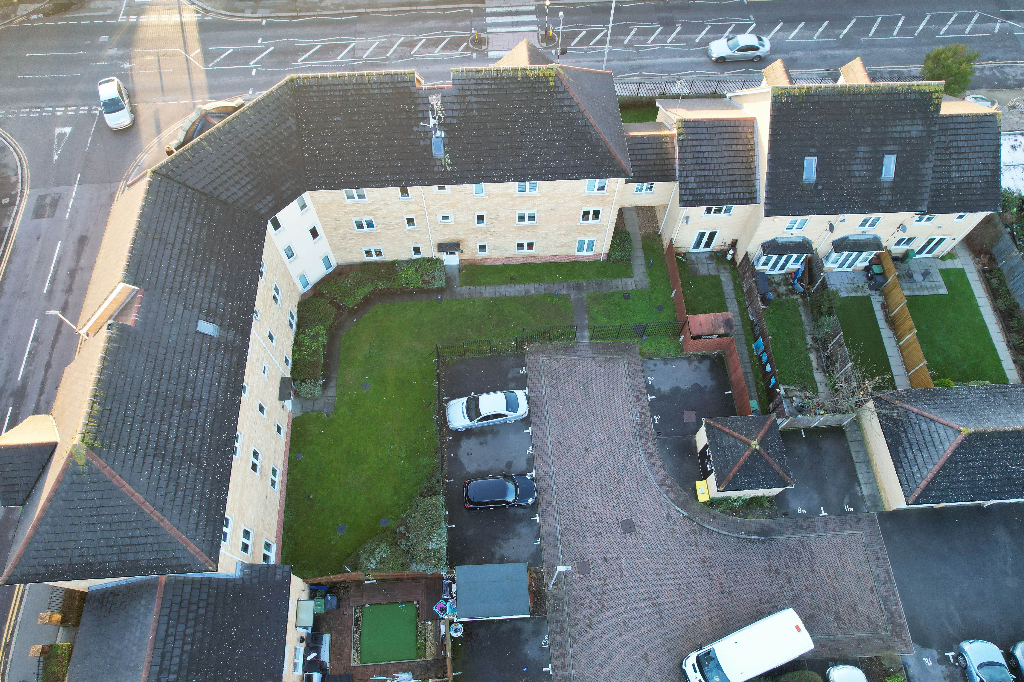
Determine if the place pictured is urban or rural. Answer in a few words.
urban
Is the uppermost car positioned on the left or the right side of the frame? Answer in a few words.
right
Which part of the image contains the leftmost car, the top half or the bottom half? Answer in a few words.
top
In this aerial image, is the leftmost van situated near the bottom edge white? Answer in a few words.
Yes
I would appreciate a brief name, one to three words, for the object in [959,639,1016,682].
car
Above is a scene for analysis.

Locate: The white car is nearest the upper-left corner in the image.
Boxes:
[97,77,136,135]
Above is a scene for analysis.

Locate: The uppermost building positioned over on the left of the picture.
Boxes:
[0,36,635,587]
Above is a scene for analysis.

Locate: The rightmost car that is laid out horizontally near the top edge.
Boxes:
[704,31,771,63]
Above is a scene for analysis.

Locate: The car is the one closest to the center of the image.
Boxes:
[445,390,528,432]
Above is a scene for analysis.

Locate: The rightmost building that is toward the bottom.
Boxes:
[859,382,1024,511]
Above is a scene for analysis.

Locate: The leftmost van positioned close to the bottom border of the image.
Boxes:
[683,611,811,682]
